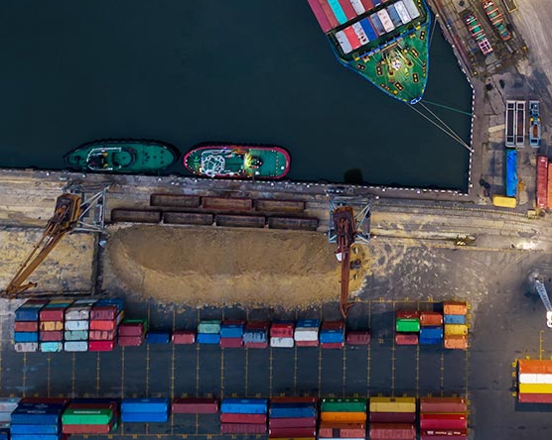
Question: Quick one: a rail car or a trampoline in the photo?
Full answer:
There is a rail car in the scene.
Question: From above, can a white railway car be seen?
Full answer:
No, I can see no white railway car in this picture.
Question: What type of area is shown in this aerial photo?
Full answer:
This image shows a port.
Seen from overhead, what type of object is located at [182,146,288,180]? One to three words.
boat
